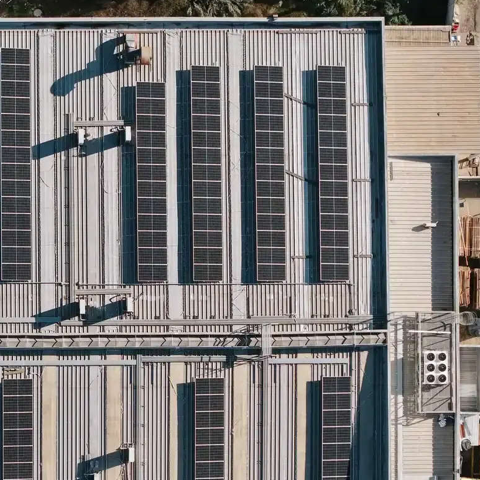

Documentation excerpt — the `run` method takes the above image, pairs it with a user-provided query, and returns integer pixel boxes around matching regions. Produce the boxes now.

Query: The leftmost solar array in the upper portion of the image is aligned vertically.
[0,48,31,281]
